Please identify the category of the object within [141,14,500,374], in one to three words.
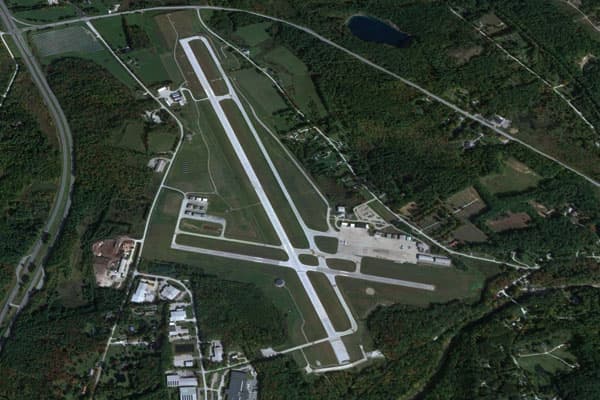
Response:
airport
